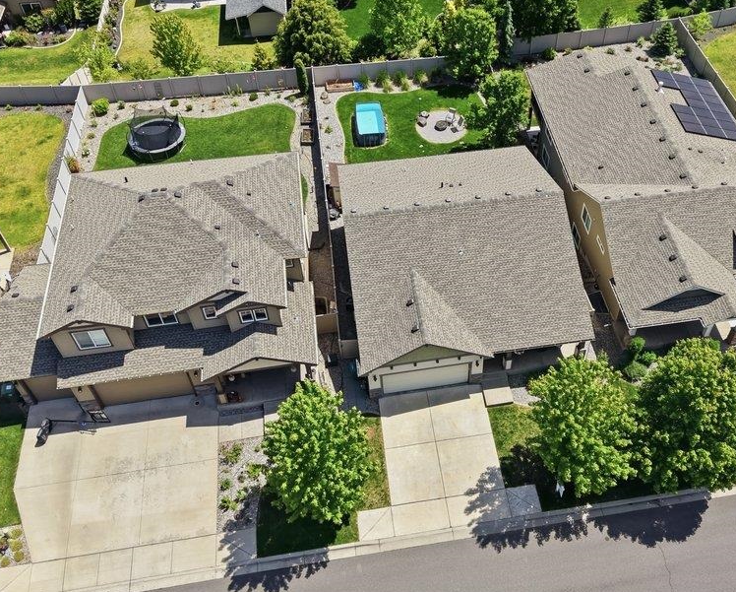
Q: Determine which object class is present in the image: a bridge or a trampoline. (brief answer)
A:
trampoline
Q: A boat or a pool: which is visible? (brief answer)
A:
pool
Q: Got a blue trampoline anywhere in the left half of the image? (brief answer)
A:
No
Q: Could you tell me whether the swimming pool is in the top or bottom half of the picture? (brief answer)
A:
top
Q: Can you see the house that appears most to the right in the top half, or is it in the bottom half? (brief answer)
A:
top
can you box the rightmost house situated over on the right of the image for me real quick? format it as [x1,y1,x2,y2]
[525,50,736,358]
